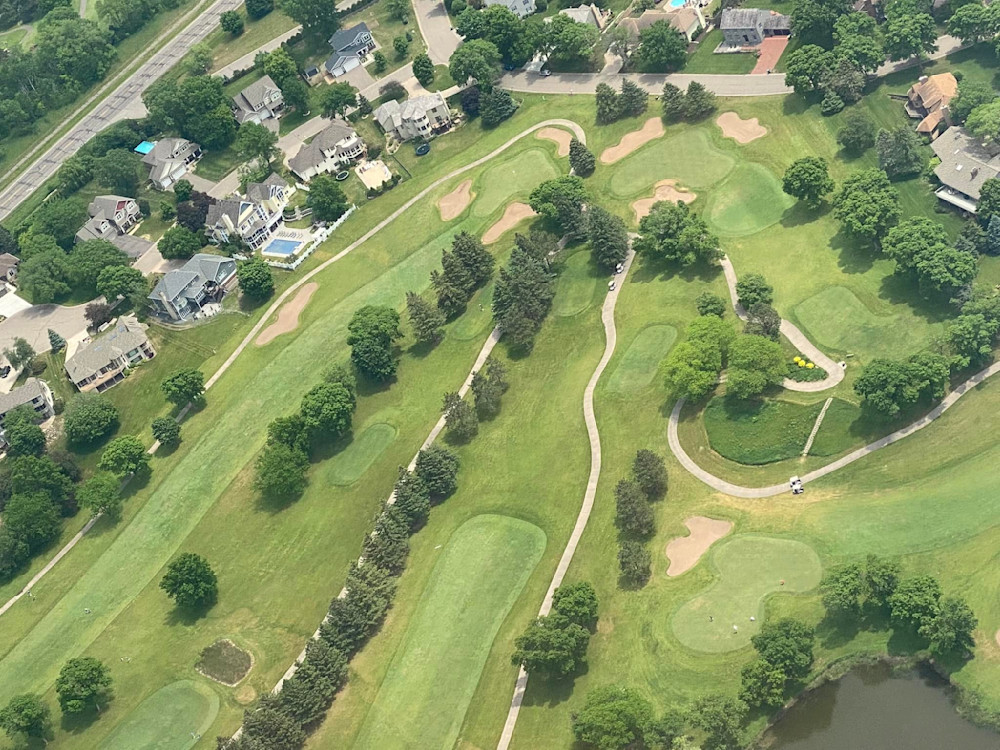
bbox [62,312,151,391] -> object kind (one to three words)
house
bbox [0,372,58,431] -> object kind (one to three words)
house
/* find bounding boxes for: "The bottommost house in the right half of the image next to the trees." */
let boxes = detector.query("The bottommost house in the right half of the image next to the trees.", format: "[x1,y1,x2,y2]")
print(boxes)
[925,119,1000,219]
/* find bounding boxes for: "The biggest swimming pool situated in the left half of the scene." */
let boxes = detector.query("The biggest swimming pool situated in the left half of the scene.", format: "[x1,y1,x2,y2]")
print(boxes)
[262,237,304,256]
